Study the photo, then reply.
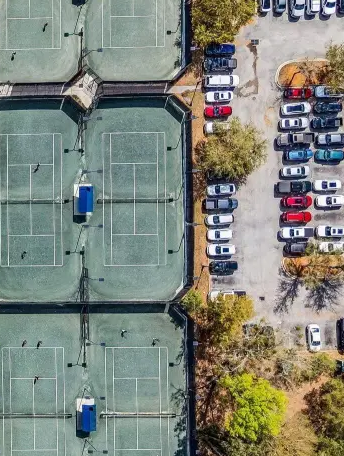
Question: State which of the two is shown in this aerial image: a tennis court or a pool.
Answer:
tennis court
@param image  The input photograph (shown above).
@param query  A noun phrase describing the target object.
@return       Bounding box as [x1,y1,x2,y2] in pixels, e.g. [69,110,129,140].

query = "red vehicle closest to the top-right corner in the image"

[285,87,312,100]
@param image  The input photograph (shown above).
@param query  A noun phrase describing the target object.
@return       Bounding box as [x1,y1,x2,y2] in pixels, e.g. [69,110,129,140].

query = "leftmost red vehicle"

[204,106,232,118]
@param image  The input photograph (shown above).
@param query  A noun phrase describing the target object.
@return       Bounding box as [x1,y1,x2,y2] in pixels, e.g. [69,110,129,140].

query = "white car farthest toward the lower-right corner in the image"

[306,324,322,351]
